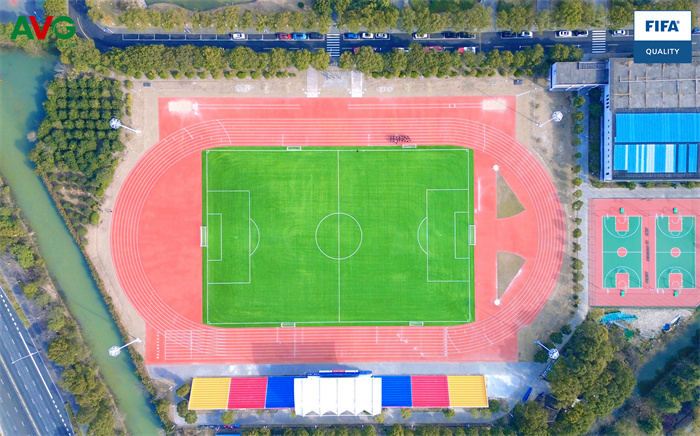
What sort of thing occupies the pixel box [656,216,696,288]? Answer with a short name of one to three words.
basketball court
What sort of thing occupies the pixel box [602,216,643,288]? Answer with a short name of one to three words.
basketball court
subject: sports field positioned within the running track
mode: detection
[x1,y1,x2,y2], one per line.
[202,144,475,329]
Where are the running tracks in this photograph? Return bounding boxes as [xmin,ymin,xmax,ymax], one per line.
[111,96,565,364]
